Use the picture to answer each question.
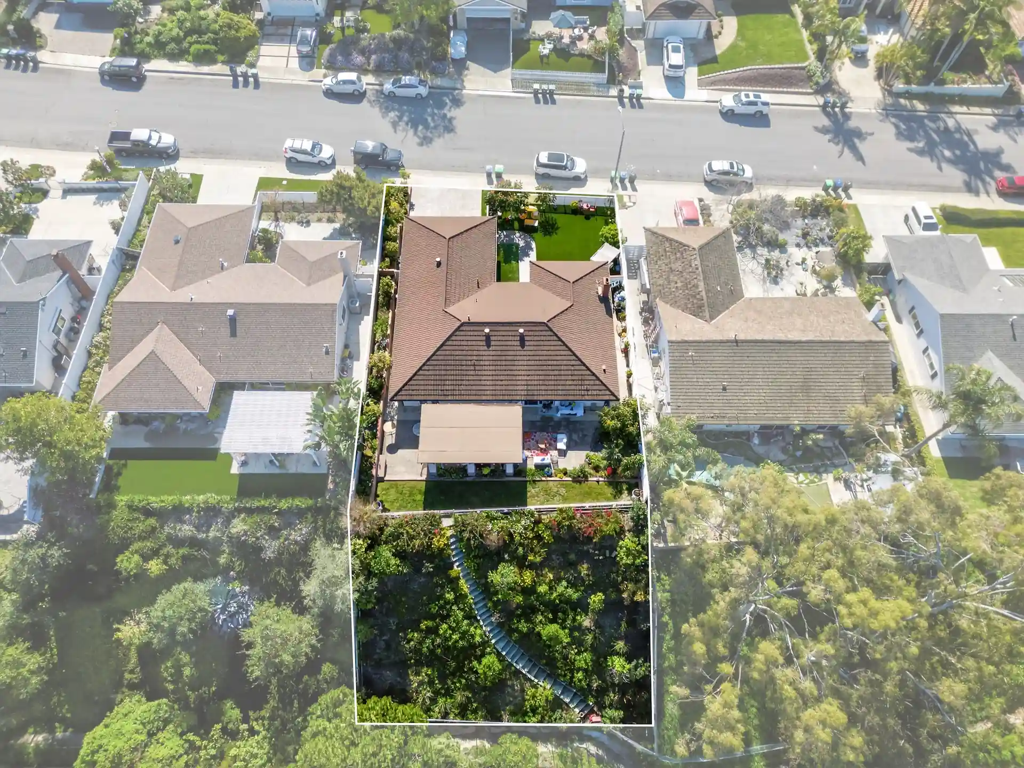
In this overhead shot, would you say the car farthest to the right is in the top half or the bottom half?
top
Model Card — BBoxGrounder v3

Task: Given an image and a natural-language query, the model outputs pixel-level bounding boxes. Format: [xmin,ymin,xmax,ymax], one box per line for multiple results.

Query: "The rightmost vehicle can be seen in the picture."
[998,170,1024,194]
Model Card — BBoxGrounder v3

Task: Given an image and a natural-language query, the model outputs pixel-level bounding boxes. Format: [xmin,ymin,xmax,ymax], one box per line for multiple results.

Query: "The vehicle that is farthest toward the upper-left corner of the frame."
[95,59,143,84]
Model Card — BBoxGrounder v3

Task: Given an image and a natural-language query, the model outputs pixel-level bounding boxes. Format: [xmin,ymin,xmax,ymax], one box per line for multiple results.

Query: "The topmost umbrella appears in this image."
[550,14,574,43]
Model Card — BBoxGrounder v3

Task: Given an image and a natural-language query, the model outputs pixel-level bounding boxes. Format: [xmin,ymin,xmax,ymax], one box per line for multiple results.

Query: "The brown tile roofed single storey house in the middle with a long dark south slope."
[389,215,619,413]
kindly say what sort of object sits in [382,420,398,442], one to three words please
umbrella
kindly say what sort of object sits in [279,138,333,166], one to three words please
car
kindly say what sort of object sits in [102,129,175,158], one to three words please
truck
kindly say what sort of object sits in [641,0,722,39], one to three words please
house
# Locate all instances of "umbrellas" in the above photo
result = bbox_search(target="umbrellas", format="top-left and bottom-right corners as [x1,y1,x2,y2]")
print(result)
[550,14,574,43]
[382,420,398,442]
